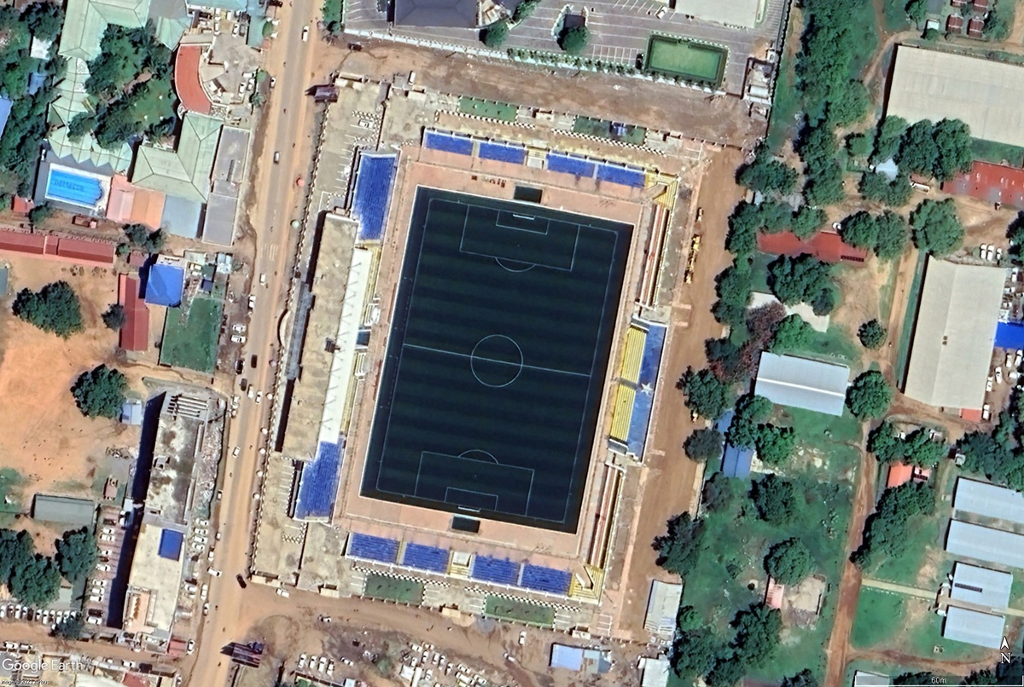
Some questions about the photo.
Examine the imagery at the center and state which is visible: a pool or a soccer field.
soccer field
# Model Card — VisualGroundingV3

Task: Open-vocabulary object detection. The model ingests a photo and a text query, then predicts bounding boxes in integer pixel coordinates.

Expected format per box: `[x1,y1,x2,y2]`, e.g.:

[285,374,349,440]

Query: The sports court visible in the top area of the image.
[642,34,729,90]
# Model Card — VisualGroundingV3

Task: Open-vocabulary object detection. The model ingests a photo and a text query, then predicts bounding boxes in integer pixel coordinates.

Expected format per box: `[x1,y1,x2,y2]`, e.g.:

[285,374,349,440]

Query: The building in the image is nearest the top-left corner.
[30,35,53,58]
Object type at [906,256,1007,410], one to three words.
building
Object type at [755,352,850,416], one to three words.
barn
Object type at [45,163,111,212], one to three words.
swimming pool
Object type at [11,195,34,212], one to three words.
shed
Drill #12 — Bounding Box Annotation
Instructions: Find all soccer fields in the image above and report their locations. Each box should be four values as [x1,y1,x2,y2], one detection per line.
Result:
[361,187,633,533]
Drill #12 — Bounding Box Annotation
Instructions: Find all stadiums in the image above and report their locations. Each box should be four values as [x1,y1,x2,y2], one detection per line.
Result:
[253,82,706,641]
